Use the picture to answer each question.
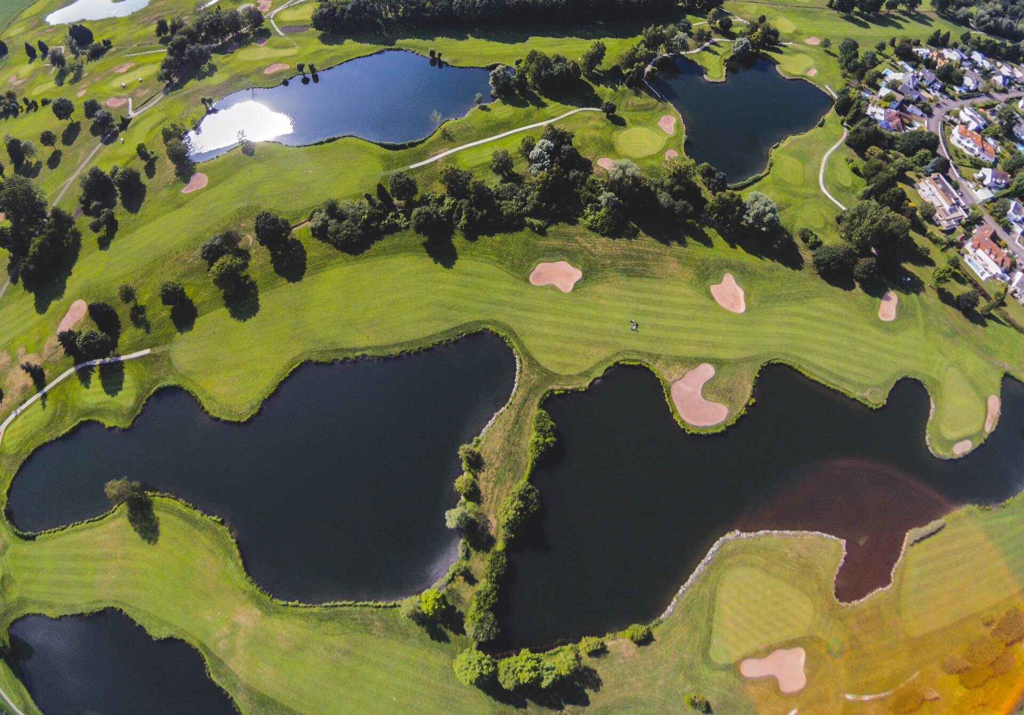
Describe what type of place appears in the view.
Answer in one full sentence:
It's a golf course.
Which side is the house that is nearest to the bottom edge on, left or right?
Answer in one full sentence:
The house that is nearest to the bottom edge appears in the right half of the scene.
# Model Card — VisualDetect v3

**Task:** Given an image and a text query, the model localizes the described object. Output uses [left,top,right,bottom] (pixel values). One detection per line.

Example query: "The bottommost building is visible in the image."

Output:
[996,268,1024,298]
